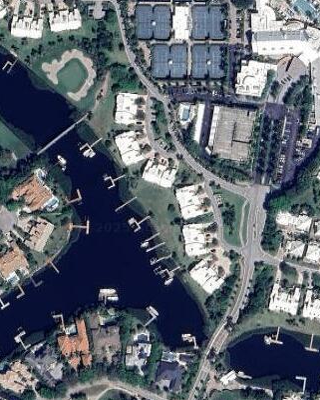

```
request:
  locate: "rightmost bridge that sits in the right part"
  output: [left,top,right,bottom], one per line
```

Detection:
[201,321,232,365]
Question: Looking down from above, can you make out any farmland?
No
